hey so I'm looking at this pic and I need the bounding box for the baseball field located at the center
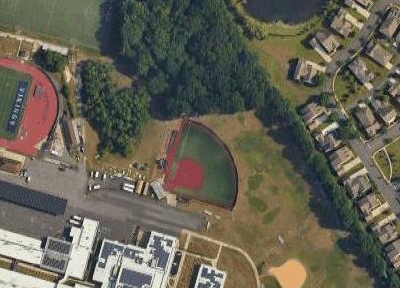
[162,118,238,210]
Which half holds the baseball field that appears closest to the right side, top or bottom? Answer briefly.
bottom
